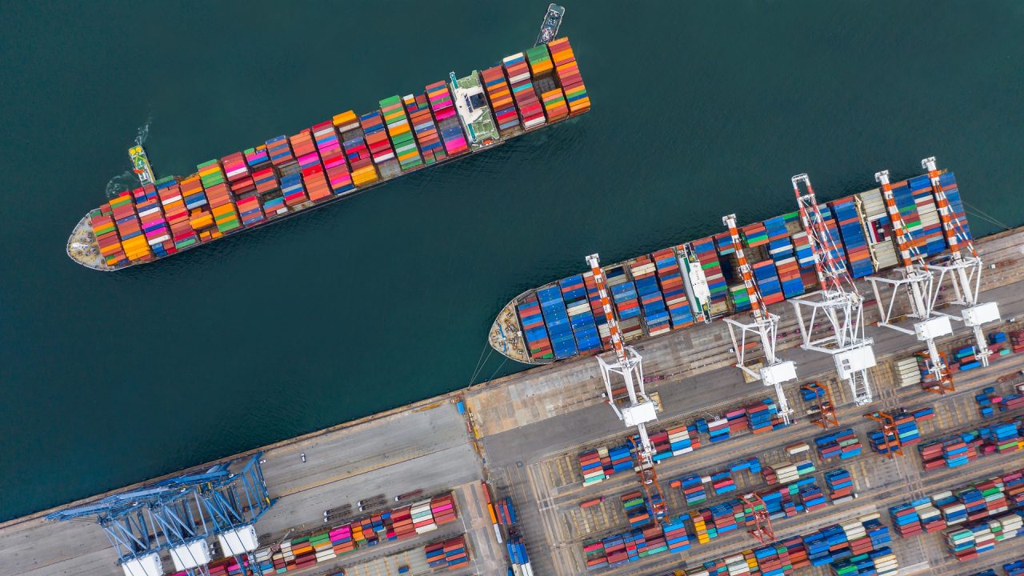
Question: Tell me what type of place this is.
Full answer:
The picture captures a port.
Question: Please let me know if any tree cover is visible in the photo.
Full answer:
No, no tree cover is visible.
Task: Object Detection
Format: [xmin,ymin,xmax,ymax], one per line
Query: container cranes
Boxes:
[717,214,799,427]
[737,490,776,546]
[799,380,841,431]
[637,477,671,528]
[148,451,282,576]
[33,486,188,576]
[912,349,958,397]
[586,254,662,467]
[624,434,659,485]
[901,155,1002,369]
[782,172,879,411]
[90,464,233,576]
[857,170,954,383]
[862,410,907,463]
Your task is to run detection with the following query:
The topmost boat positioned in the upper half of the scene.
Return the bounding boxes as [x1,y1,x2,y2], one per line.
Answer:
[537,2,566,47]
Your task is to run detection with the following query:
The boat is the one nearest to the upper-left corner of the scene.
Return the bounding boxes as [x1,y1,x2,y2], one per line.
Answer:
[128,144,157,187]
